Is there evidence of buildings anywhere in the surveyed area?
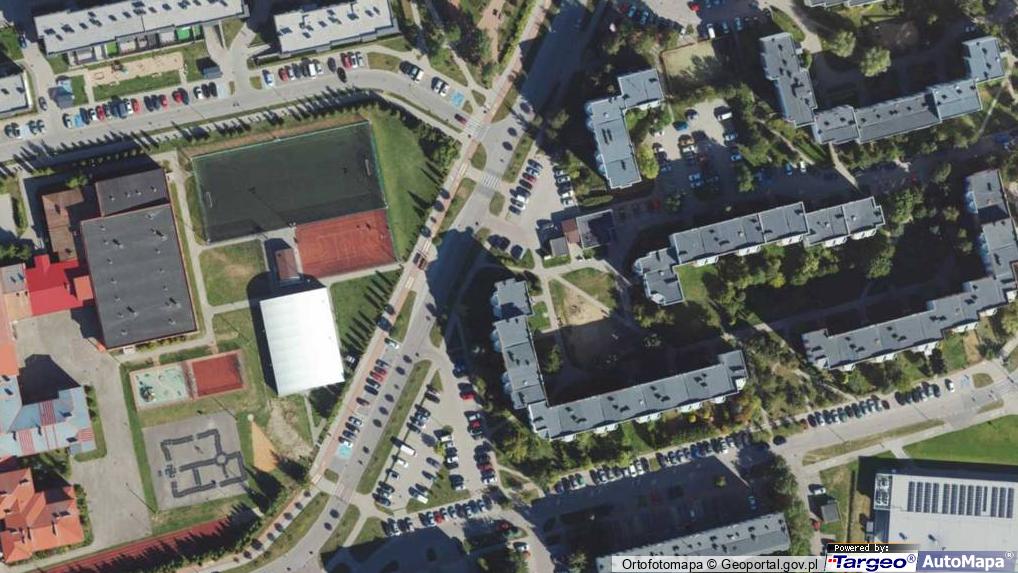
Yes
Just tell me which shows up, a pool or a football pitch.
football pitch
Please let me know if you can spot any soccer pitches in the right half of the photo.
No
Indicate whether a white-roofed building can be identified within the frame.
Yes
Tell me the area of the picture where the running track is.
bottom left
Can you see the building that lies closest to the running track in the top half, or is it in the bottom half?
bottom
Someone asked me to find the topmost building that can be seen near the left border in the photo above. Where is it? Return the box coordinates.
[34,0,248,65]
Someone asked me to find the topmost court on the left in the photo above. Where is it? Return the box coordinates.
[295,209,396,278]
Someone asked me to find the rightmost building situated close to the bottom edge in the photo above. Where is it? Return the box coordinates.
[886,475,1018,573]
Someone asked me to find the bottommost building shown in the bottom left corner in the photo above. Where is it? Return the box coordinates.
[0,469,84,562]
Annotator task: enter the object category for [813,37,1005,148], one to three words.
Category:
building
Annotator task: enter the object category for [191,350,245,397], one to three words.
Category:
sports court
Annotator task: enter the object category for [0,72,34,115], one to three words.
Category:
building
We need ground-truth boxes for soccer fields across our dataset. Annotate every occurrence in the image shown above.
[192,119,398,260]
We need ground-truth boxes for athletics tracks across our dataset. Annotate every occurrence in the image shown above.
[36,515,238,573]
